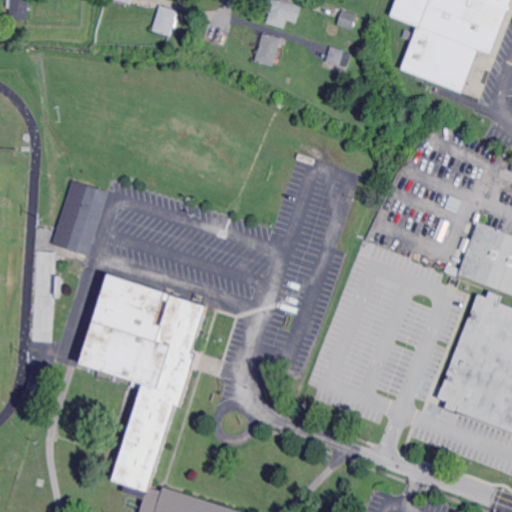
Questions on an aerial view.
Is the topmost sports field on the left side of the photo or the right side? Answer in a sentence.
You can find the topmost sports field on the left side of the picture.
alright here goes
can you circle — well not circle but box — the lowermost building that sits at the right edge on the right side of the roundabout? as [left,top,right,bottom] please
[430,290,512,434]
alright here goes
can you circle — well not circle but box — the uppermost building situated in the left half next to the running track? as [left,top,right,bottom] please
[51,180,108,255]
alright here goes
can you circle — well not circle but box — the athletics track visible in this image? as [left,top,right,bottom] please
[0,82,40,428]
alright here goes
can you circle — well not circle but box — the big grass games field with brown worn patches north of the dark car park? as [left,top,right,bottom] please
[58,61,300,226]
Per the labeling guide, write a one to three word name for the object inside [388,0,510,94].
building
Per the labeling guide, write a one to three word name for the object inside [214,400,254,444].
roundabout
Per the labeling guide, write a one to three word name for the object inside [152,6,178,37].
house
